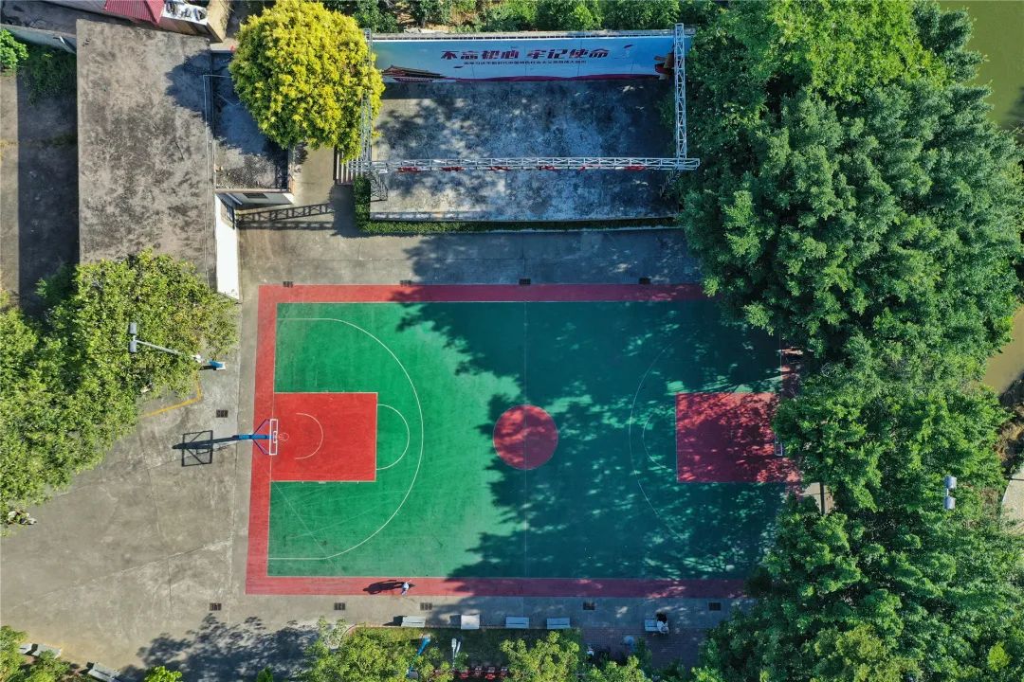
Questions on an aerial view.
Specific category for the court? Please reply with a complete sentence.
What you see as the court is a basketball court.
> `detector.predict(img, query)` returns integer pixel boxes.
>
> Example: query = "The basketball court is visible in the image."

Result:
[246,284,808,598]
